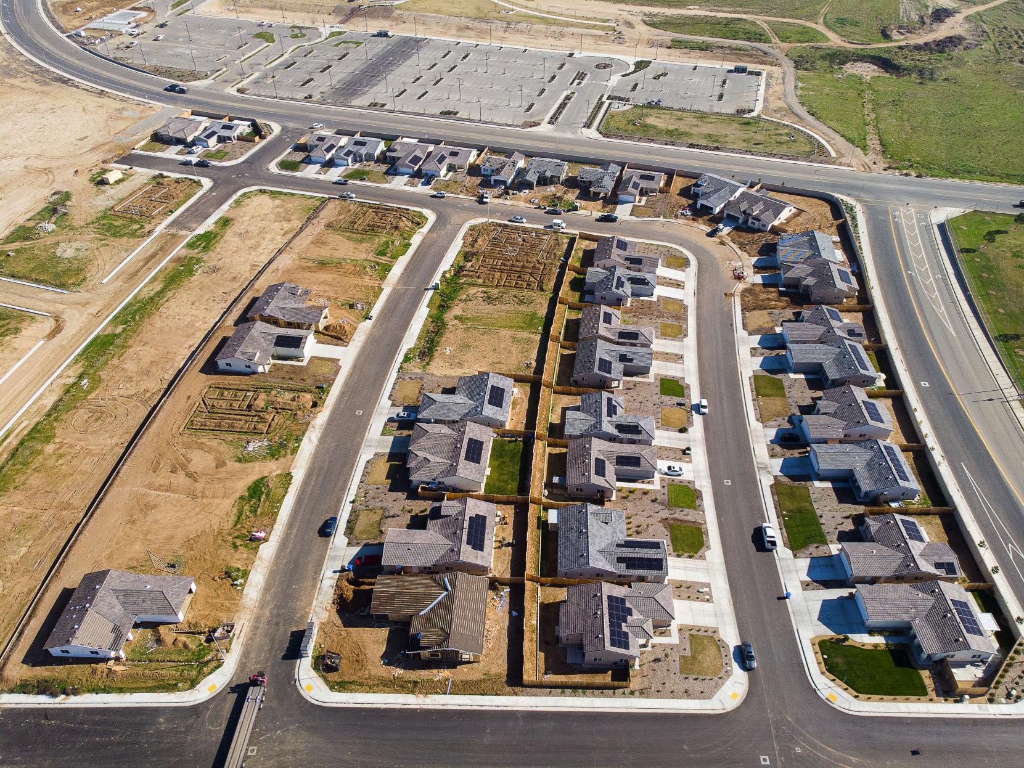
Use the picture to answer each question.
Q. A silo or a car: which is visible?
car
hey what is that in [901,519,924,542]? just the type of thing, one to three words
solar panel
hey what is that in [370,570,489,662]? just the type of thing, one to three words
house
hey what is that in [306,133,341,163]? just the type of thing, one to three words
house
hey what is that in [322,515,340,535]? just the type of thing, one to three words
car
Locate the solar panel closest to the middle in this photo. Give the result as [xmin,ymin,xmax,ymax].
[488,386,507,407]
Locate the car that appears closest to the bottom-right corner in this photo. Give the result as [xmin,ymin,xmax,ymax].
[741,640,758,668]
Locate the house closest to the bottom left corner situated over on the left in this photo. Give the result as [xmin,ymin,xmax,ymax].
[43,568,195,658]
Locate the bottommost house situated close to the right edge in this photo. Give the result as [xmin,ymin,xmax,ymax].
[854,579,1001,662]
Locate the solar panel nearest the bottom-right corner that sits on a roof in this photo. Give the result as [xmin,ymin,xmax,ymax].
[951,599,983,635]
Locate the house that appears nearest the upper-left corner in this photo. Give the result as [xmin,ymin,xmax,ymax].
[155,118,203,143]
